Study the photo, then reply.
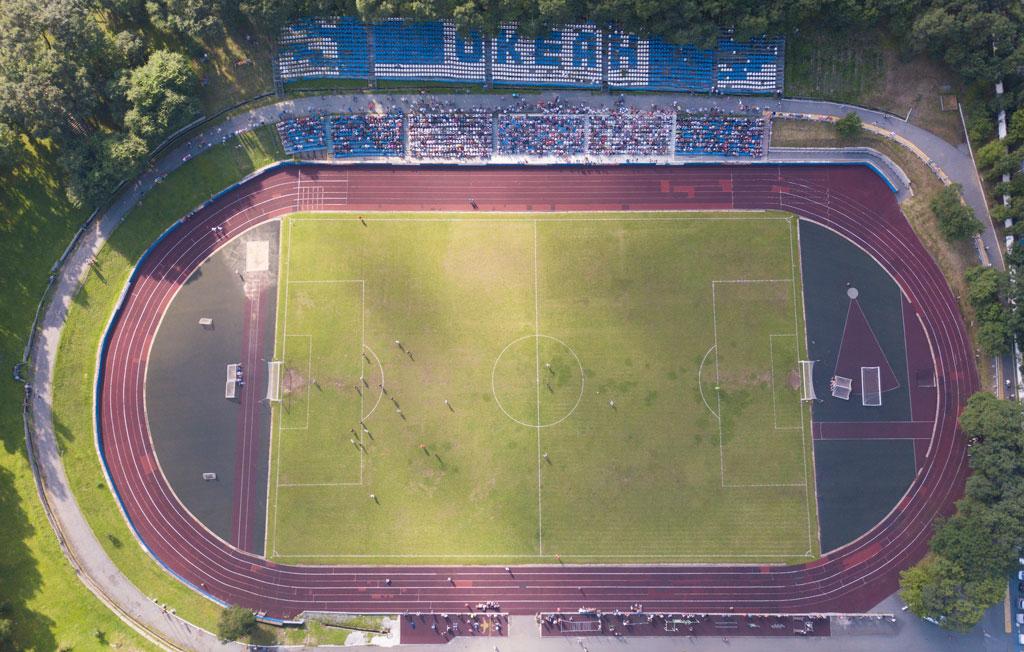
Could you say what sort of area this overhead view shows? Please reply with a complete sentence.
The area seen from above is a sports ground.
